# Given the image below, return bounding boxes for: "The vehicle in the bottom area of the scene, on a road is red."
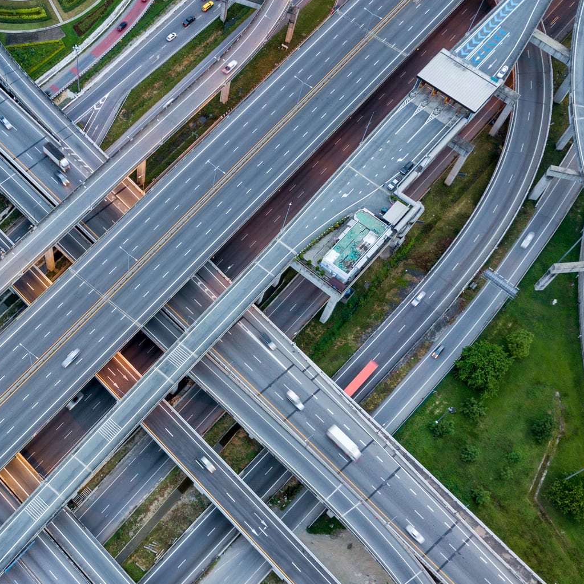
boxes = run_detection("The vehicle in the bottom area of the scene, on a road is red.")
[342,352,385,395]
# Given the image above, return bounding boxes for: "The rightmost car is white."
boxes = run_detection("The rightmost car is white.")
[522,228,537,246]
